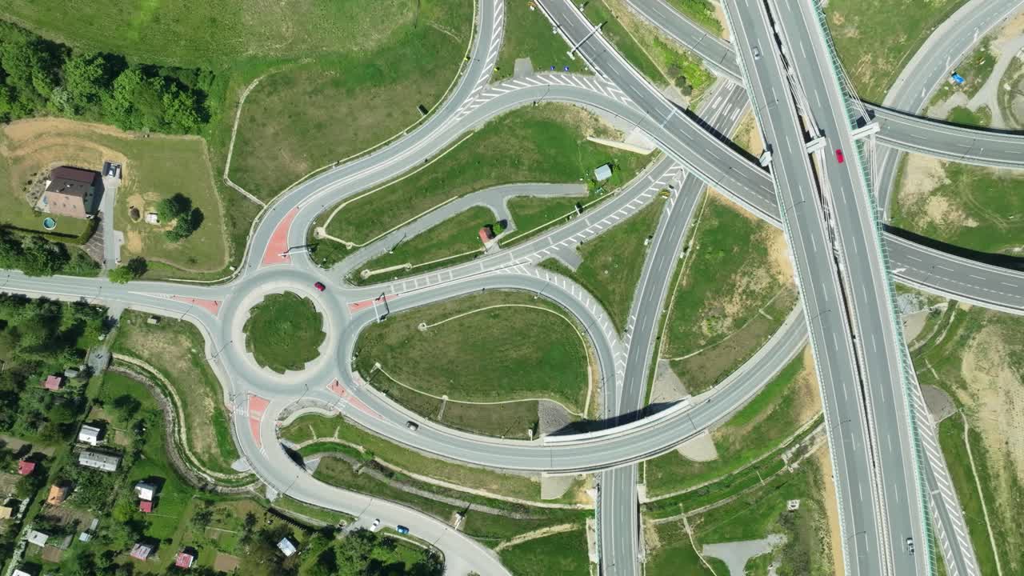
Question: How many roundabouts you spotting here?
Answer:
1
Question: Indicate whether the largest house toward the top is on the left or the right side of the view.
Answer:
left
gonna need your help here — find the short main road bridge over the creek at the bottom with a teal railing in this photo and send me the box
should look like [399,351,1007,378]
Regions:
[597,487,639,576]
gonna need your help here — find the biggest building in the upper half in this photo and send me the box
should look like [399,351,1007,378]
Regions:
[41,162,105,220]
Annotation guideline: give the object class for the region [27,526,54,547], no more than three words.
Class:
house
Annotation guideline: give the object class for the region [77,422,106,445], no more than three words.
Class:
house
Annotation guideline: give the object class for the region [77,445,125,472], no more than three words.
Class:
shed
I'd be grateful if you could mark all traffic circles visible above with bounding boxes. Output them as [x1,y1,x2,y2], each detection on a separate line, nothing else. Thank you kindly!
[215,263,352,401]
